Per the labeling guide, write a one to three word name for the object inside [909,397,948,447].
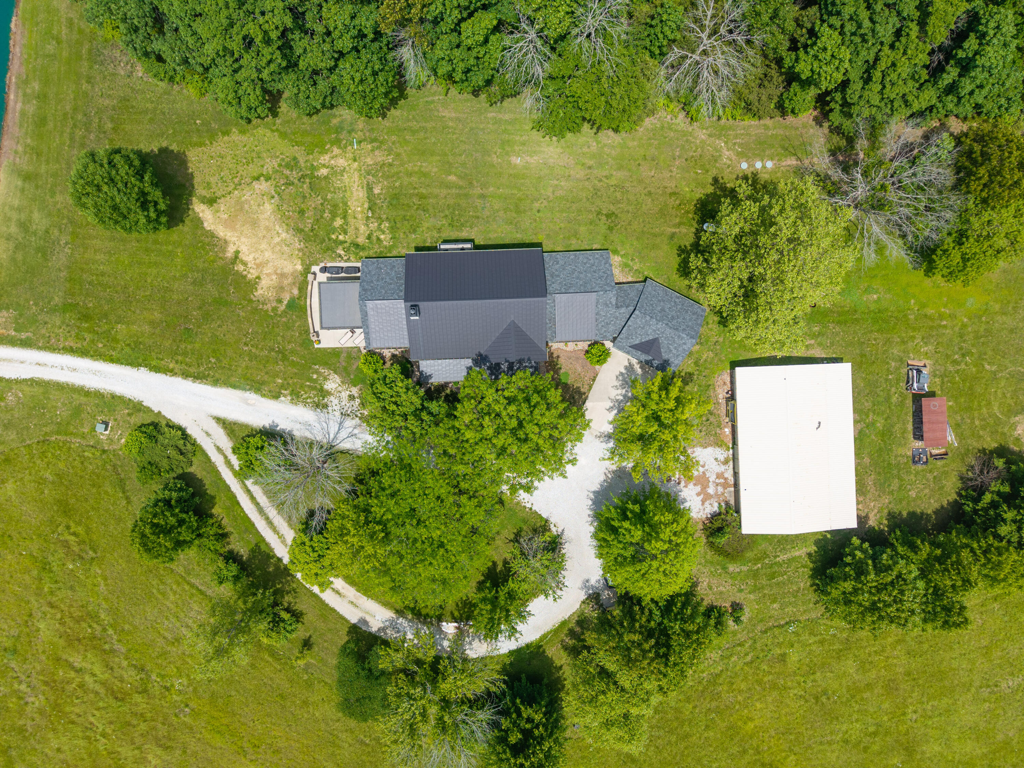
shed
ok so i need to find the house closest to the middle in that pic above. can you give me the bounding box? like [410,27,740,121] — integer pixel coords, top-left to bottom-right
[317,241,708,384]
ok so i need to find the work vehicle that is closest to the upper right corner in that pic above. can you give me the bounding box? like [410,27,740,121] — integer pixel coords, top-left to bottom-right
[902,360,929,394]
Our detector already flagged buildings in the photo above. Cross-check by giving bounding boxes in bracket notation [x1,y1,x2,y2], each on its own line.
[317,241,708,384]
[728,363,858,535]
[909,397,948,447]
